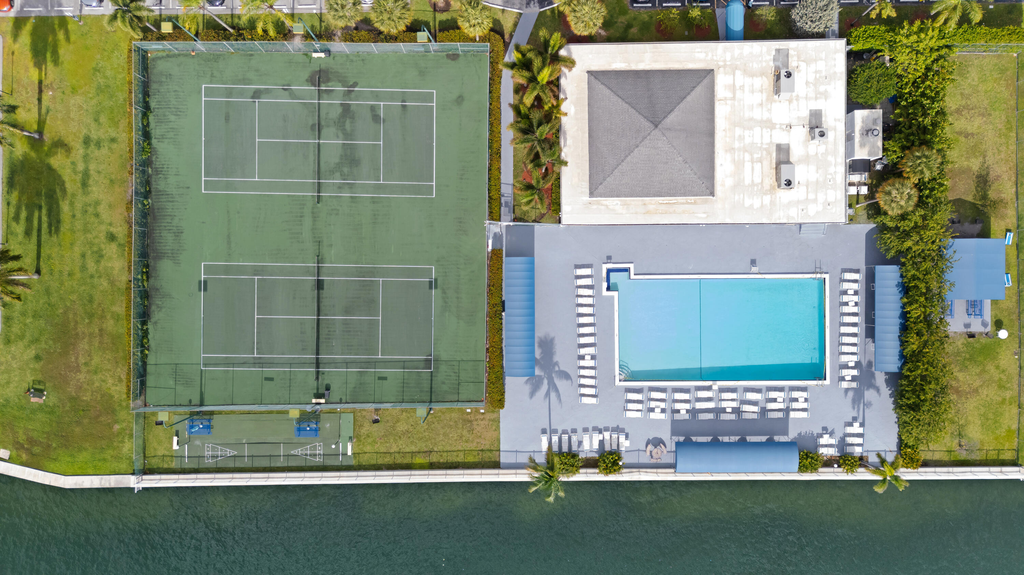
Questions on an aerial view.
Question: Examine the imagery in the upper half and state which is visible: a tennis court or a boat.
tennis court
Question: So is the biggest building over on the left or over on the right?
right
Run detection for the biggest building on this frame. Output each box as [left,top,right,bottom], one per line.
[560,38,847,225]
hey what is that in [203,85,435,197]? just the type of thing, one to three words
tennis court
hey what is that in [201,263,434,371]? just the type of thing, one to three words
tennis court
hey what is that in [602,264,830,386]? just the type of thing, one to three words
swimming pool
